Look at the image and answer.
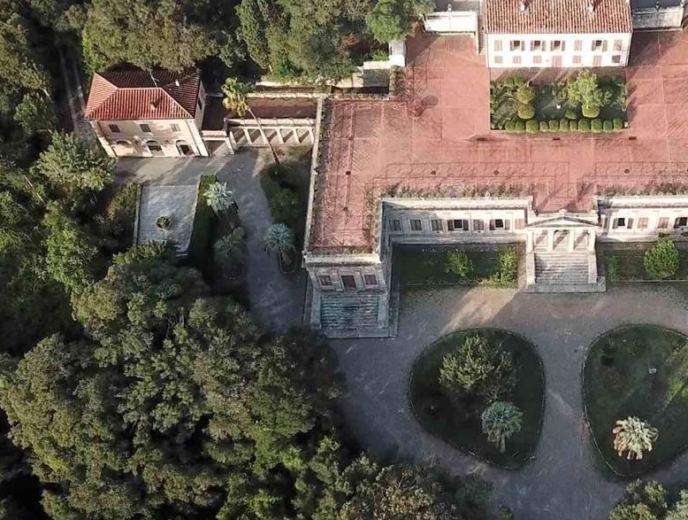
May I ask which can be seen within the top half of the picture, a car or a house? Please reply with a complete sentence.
Looking within the top half of the picture, you will find a house.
